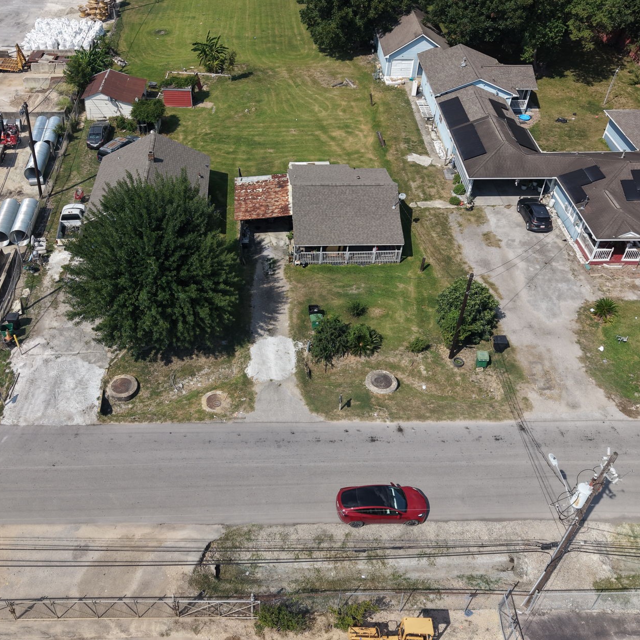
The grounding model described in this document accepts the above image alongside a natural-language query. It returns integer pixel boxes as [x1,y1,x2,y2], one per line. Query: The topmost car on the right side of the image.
[514,198,554,232]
